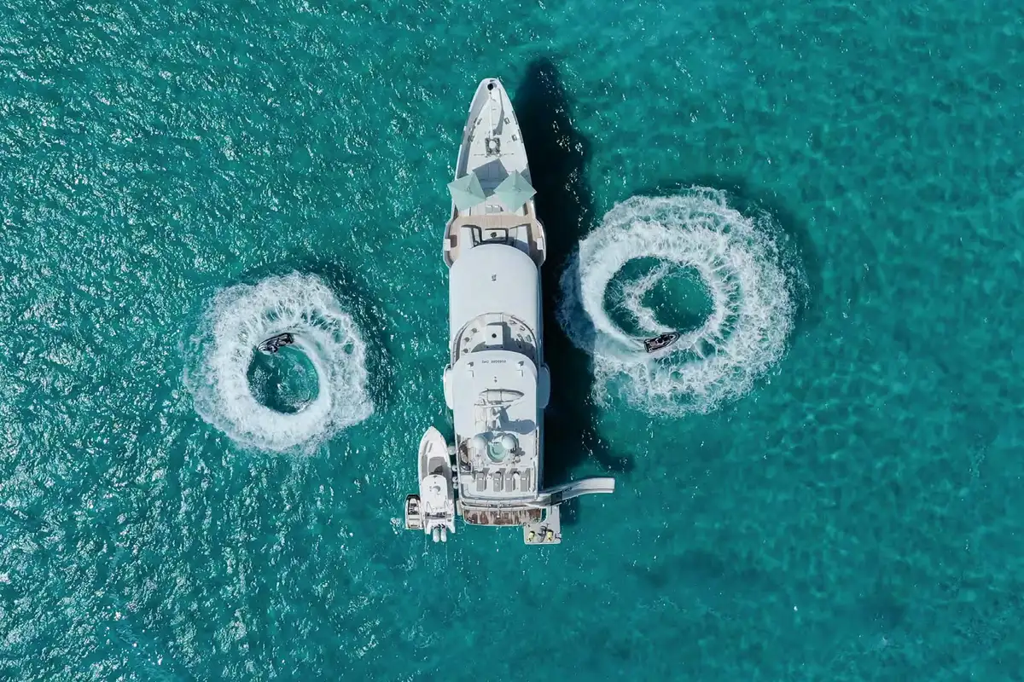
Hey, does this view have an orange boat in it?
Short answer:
No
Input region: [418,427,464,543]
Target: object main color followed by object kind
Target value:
white boat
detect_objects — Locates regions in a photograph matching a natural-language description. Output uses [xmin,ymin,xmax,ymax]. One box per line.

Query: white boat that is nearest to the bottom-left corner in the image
[406,493,423,529]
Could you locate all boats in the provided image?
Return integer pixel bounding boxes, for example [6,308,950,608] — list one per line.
[256,335,294,353]
[406,493,423,529]
[643,334,679,353]
[443,78,550,525]
[418,427,464,543]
